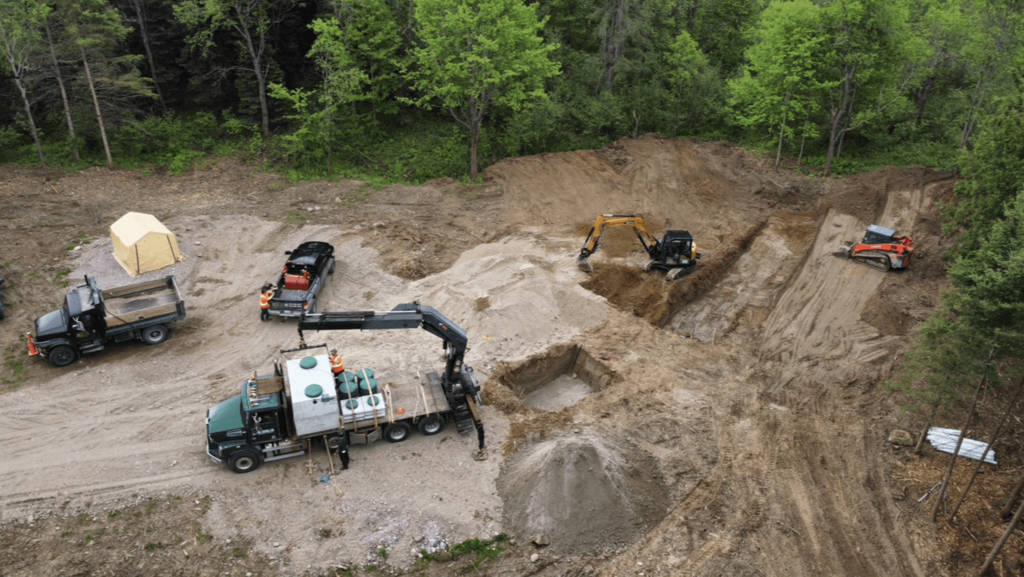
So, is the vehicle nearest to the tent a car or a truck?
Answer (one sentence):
It looks like the vehicle nearest to the tent is a truck.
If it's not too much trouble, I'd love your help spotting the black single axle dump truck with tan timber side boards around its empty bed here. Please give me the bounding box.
[36,273,187,369]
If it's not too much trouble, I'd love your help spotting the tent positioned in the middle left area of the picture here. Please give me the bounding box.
[109,210,188,278]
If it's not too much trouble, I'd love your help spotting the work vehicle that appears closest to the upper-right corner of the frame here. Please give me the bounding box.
[832,218,921,272]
